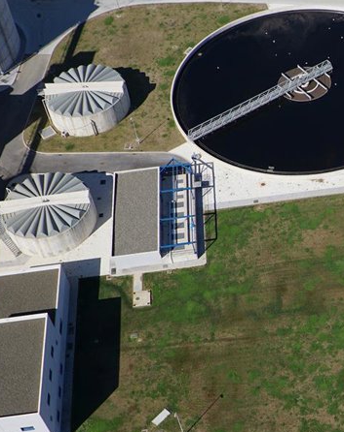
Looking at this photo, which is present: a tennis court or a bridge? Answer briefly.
bridge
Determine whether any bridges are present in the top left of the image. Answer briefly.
No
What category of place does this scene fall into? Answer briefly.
industrial area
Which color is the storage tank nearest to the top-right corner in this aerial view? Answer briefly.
black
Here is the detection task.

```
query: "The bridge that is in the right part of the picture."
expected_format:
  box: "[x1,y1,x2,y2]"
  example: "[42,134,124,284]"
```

[185,58,334,146]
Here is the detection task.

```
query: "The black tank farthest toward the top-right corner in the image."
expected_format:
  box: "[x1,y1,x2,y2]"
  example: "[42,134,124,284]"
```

[170,7,344,181]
